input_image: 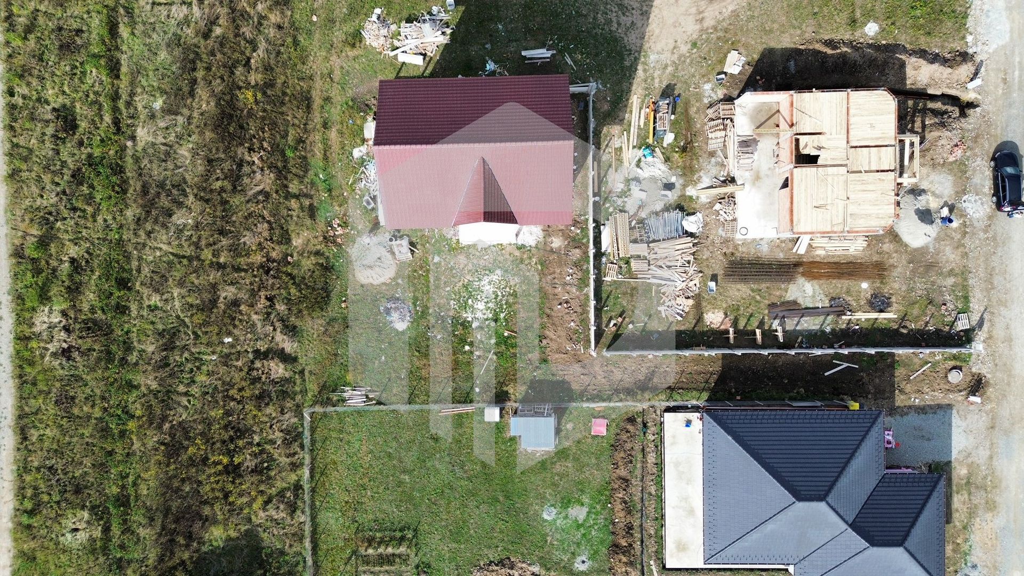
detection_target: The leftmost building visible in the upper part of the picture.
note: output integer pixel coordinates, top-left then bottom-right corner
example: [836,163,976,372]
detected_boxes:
[372,74,574,246]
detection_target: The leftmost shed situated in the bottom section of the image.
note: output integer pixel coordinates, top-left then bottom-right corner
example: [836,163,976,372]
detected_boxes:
[510,405,559,447]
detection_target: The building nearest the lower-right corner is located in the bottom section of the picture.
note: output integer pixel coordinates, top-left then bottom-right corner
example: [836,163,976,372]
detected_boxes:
[663,406,947,576]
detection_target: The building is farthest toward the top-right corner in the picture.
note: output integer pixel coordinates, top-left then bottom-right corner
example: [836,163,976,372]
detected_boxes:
[734,85,920,239]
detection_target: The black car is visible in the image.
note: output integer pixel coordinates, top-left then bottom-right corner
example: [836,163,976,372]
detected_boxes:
[986,150,1024,213]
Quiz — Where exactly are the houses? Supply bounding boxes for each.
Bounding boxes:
[734,85,920,239]
[372,74,574,246]
[663,406,947,576]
